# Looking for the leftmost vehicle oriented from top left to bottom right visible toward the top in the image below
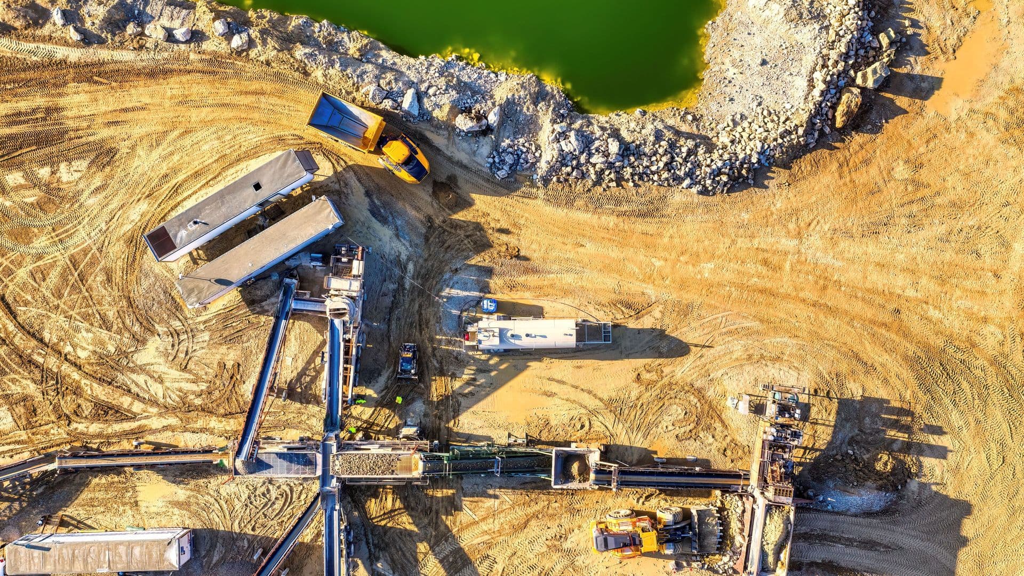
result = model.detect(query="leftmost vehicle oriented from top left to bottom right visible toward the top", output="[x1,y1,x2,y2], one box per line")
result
[305,88,428,184]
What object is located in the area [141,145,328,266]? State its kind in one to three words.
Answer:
trailer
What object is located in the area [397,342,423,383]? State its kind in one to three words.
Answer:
work vehicle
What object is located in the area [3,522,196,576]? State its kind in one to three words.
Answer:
trailer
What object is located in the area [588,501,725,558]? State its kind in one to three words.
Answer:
work vehicle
